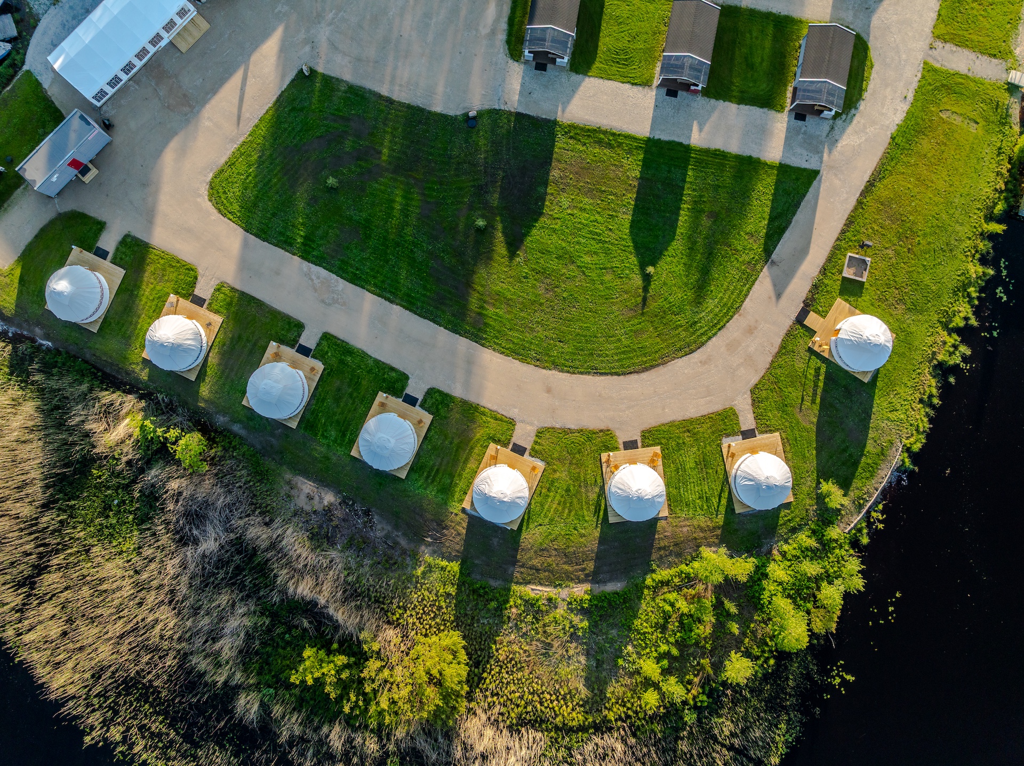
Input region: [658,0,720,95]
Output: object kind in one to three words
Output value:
building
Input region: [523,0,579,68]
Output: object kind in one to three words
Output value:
building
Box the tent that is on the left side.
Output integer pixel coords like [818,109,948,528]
[45,0,197,107]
